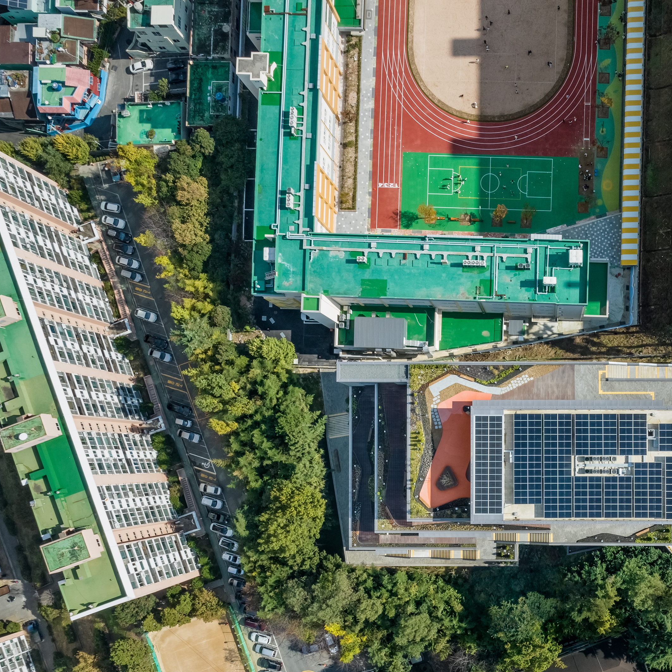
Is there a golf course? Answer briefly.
No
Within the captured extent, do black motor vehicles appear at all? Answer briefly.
Yes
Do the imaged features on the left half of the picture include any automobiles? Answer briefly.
Yes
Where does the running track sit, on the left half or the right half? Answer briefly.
right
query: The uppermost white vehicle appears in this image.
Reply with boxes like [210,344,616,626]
[128,58,155,75]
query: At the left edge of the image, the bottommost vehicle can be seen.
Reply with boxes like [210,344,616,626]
[26,619,41,644]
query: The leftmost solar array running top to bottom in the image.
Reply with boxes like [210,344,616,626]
[476,416,503,513]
